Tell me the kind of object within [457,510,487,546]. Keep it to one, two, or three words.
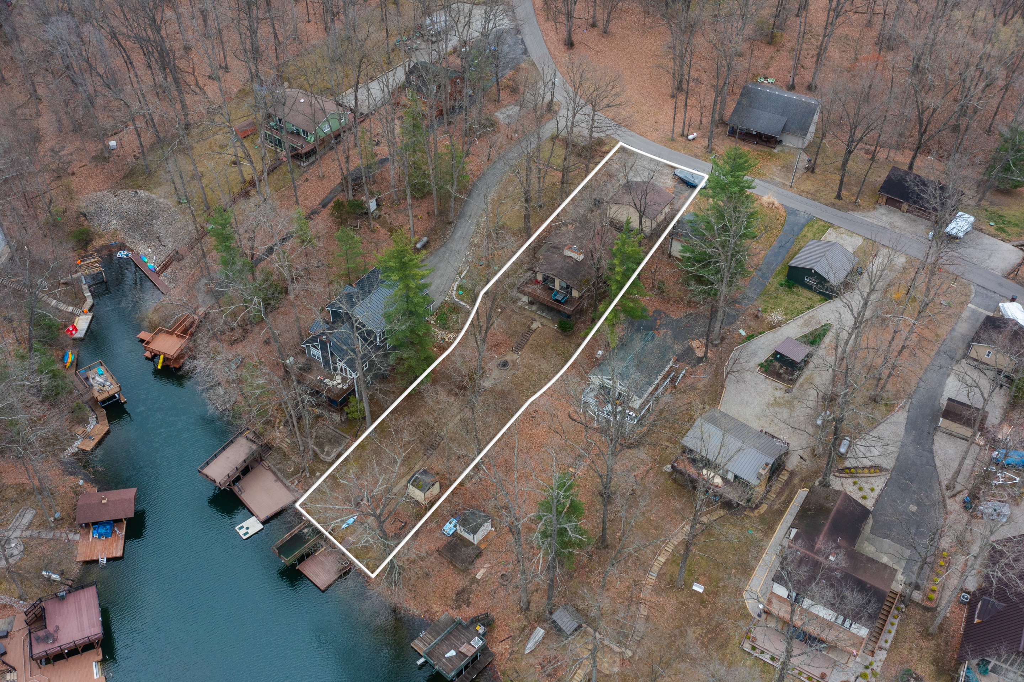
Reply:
shed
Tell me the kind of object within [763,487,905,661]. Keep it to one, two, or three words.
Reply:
house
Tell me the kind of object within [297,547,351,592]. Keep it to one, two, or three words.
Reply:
pier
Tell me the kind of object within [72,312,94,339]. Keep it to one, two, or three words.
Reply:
pier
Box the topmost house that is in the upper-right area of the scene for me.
[724,83,824,152]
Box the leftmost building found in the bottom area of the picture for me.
[76,483,140,563]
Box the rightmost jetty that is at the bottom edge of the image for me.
[410,609,495,682]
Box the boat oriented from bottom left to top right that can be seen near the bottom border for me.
[524,626,545,654]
